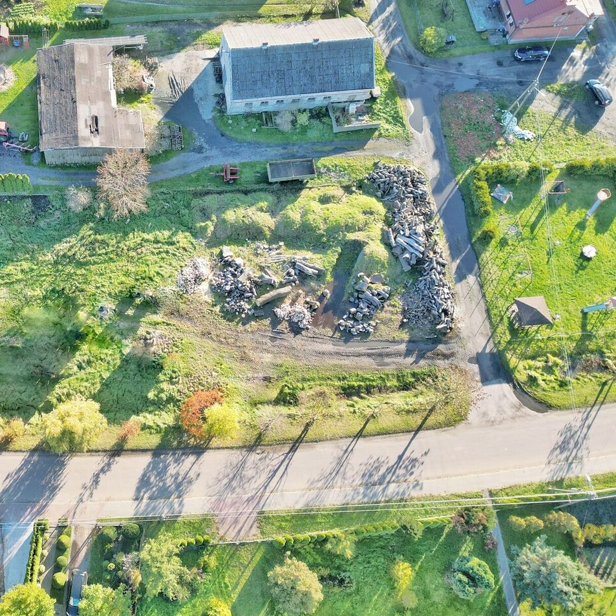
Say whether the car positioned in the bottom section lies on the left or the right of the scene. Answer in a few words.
left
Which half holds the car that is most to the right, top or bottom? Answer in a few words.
top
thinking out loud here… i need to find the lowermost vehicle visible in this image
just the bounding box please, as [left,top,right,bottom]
[65,571,87,616]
